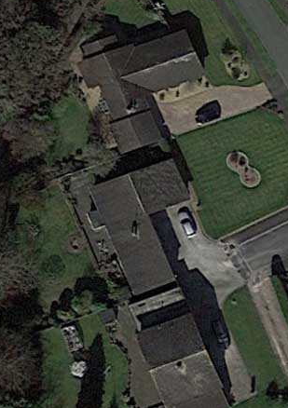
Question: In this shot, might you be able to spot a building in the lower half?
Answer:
Yes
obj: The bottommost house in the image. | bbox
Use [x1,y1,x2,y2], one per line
[136,313,230,408]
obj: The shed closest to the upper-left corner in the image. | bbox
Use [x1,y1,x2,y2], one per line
[81,33,119,56]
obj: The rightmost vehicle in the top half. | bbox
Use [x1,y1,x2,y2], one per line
[195,102,223,121]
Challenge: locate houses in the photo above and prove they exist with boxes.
[91,159,191,296]
[136,313,230,408]
[78,28,203,155]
